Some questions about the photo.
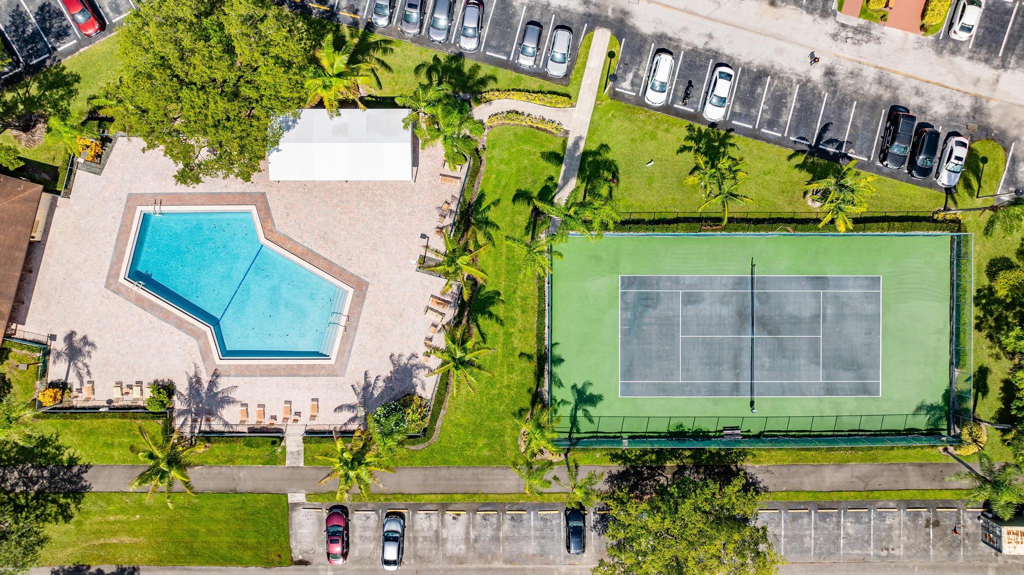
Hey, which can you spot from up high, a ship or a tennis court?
tennis court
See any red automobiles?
Yes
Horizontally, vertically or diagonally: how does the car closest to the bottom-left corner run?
vertically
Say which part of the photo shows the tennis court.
right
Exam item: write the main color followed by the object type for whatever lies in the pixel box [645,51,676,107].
white car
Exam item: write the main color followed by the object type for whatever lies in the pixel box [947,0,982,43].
white car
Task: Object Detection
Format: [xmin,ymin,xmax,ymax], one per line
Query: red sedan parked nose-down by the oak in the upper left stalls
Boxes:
[63,0,104,39]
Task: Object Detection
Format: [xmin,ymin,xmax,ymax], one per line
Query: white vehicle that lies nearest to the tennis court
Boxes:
[934,135,971,189]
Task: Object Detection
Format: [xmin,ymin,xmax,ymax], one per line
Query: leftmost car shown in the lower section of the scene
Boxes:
[323,508,349,565]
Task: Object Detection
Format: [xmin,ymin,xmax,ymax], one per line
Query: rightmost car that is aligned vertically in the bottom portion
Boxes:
[564,506,589,559]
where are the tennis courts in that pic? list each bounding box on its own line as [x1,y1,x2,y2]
[551,236,950,436]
